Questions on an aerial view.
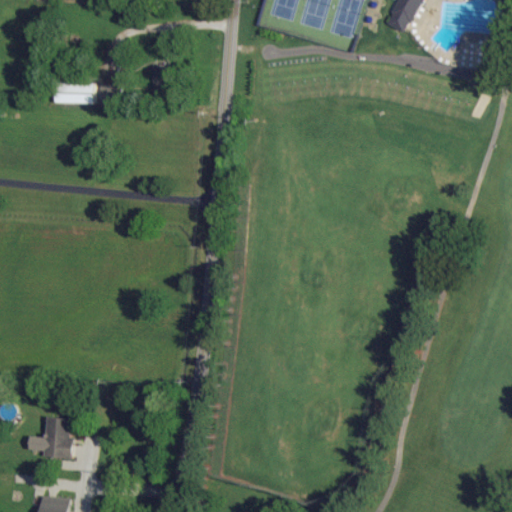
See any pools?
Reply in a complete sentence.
Yes, this view includes a pool.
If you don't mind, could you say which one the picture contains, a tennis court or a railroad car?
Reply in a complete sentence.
There is a tennis court in the scene.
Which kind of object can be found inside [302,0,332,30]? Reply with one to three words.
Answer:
tennis court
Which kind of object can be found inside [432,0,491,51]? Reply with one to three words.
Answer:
swimming pool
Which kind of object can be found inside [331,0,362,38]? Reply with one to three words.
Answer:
tennis court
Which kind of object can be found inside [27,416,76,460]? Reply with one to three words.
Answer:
house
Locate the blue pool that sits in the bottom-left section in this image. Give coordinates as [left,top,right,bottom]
[0,404,19,420]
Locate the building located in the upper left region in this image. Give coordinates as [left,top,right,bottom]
[54,82,98,104]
